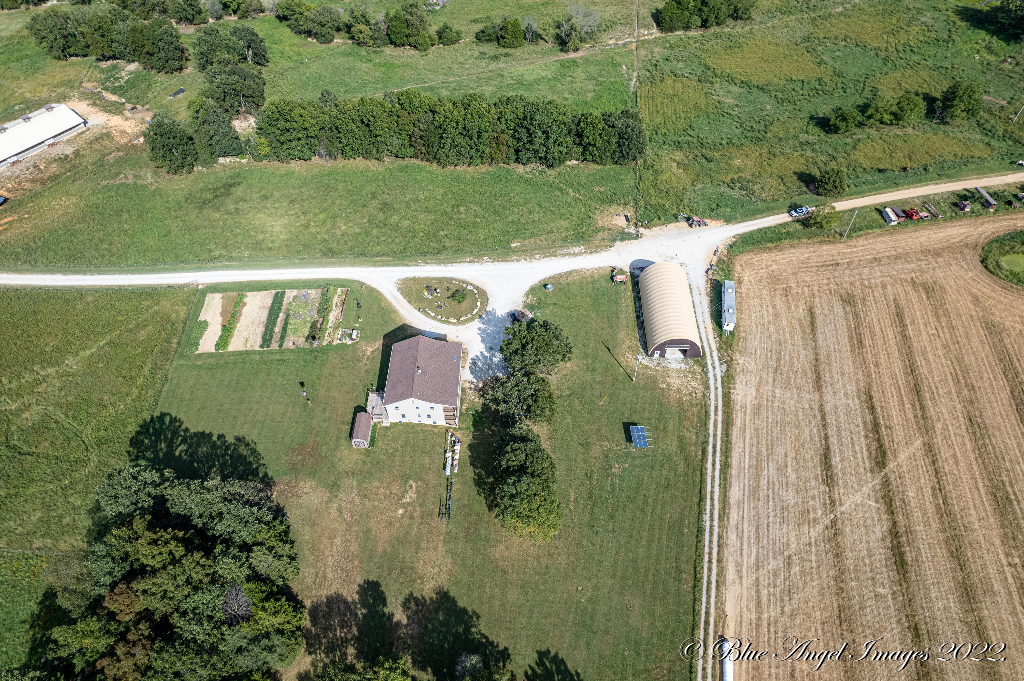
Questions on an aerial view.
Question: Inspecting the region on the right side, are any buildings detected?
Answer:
Yes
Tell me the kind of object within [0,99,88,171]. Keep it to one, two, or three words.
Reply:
barn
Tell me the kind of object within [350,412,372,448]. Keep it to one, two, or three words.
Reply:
shed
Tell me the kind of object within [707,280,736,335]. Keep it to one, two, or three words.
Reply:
trailer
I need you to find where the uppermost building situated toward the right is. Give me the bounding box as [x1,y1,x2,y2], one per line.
[639,260,703,360]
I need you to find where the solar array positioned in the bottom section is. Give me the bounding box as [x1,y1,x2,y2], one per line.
[630,426,648,450]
